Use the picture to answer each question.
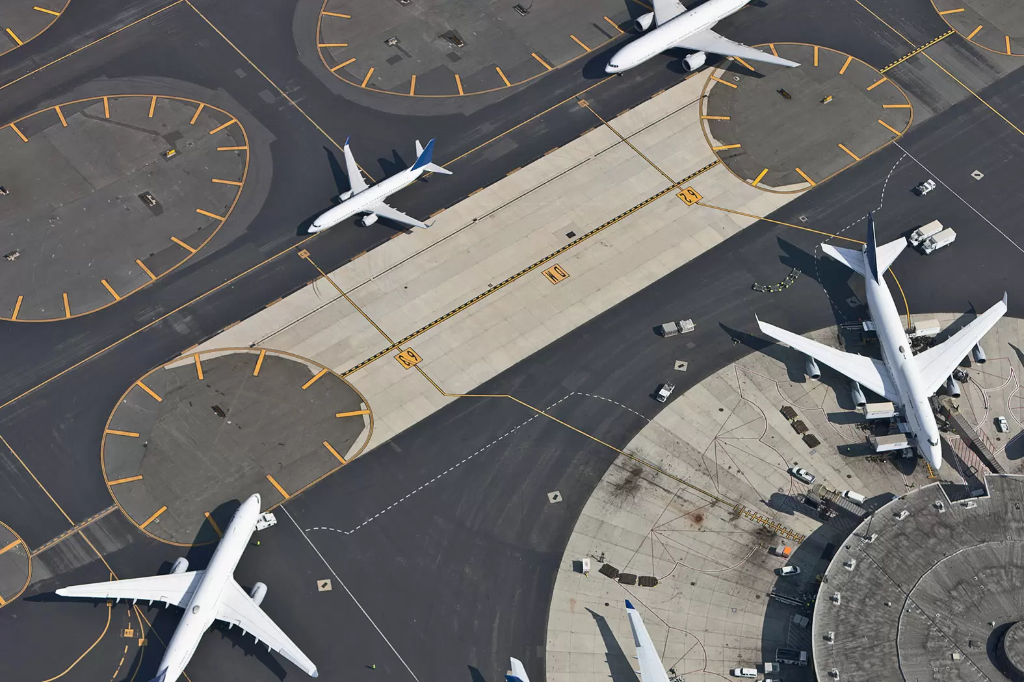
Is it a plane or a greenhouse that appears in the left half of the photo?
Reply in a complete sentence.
There is a plane in the left half of the photo.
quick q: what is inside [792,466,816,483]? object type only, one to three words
vehicle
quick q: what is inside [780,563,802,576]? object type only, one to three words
vehicle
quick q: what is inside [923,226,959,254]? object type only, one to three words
truck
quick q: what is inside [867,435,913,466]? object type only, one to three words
truck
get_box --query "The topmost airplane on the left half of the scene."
[308,136,453,232]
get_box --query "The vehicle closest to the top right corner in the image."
[916,175,938,192]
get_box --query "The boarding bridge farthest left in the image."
[805,482,869,521]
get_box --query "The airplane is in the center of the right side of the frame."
[759,209,1010,470]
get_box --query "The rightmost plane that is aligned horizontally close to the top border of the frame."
[606,0,802,74]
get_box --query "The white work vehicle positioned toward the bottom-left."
[253,510,280,532]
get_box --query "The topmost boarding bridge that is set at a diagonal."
[929,395,1006,472]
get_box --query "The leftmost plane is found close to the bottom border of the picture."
[54,494,316,682]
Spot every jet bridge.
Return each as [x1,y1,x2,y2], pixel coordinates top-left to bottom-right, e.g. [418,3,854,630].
[929,395,1006,472]
[805,482,869,521]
